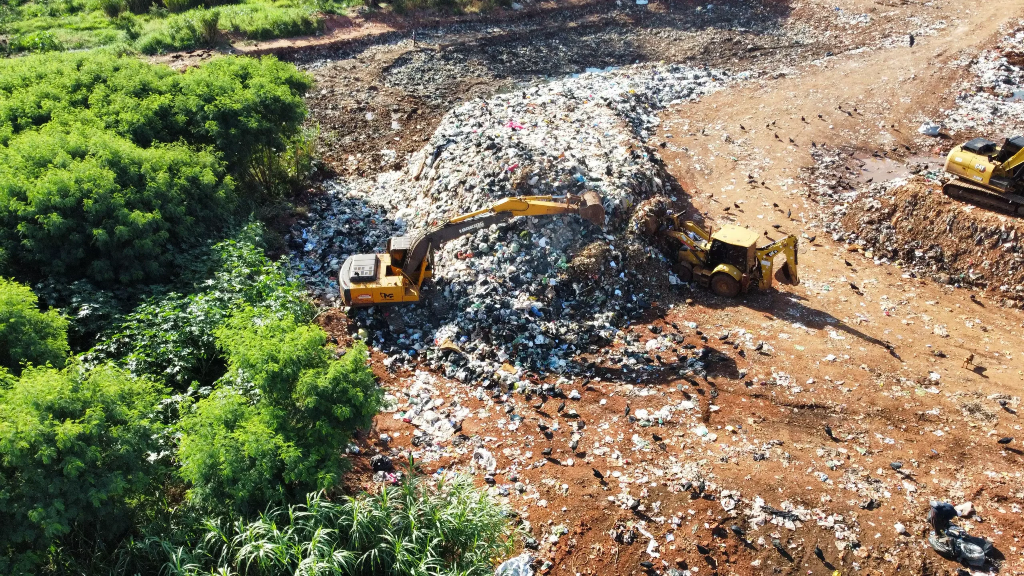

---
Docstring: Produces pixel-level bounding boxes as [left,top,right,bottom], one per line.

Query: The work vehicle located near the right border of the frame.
[944,141,1024,218]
